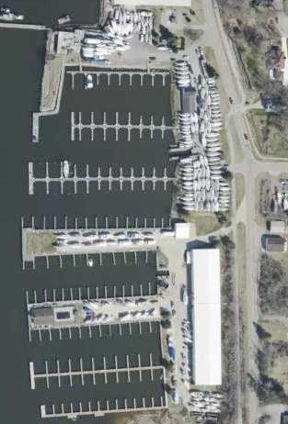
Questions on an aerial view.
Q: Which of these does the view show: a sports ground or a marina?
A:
marina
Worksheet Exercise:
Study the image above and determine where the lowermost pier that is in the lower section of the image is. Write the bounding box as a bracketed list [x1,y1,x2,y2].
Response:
[41,397,167,419]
